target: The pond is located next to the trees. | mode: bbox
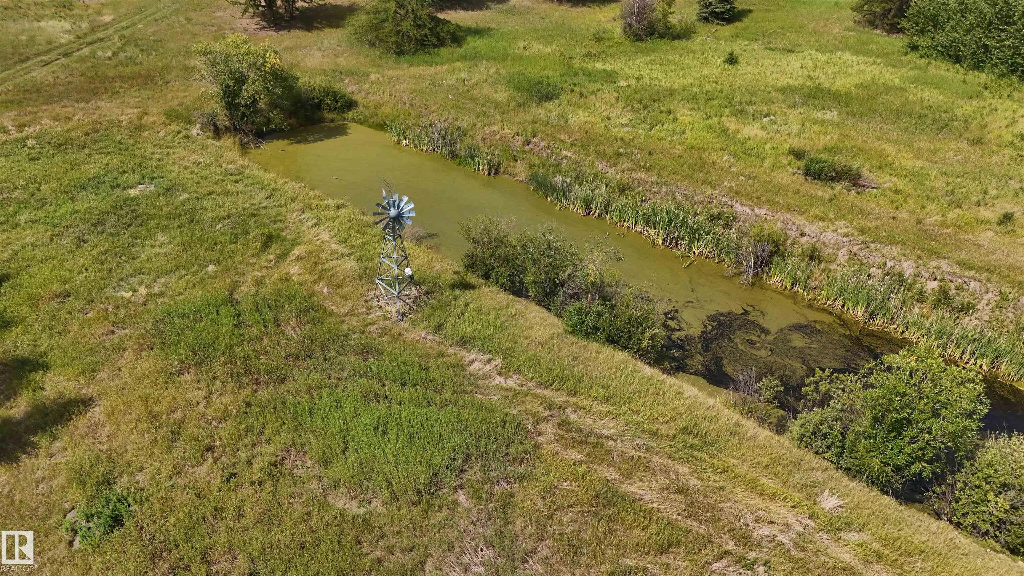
[251,122,1024,549]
